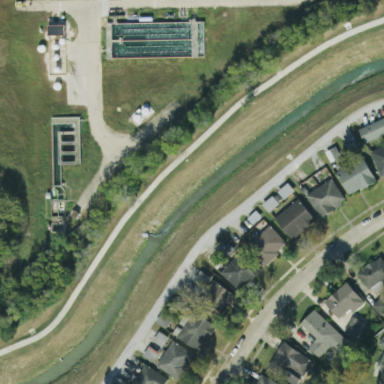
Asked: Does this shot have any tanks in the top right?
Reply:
No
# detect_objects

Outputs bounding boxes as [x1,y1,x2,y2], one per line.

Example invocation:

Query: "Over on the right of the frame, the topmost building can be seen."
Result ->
[359,118,384,142]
